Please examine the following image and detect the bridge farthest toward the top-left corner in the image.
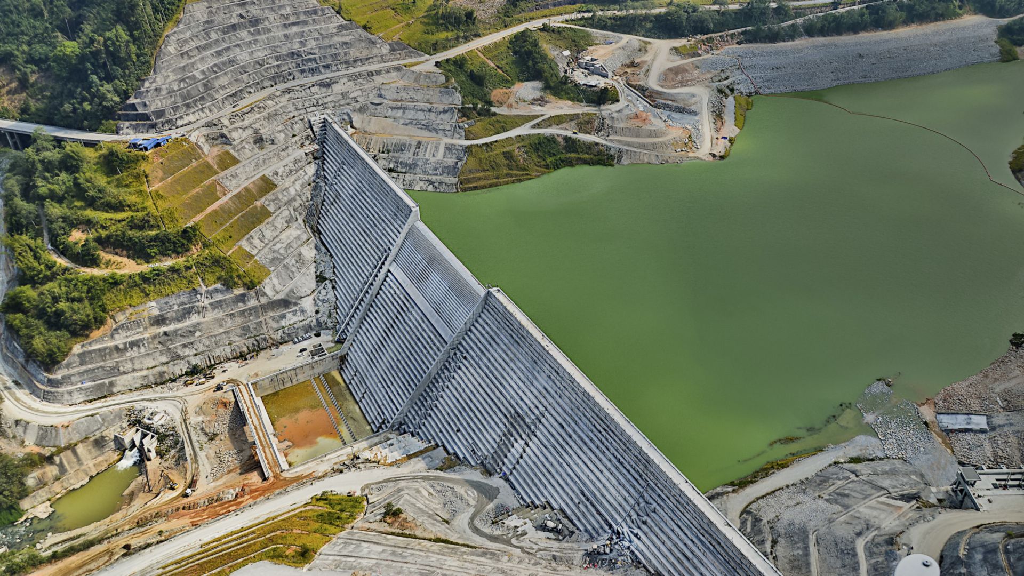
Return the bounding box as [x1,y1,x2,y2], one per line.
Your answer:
[0,119,125,190]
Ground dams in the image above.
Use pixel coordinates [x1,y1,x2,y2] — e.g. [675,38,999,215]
[316,114,784,576]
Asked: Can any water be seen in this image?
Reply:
Yes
